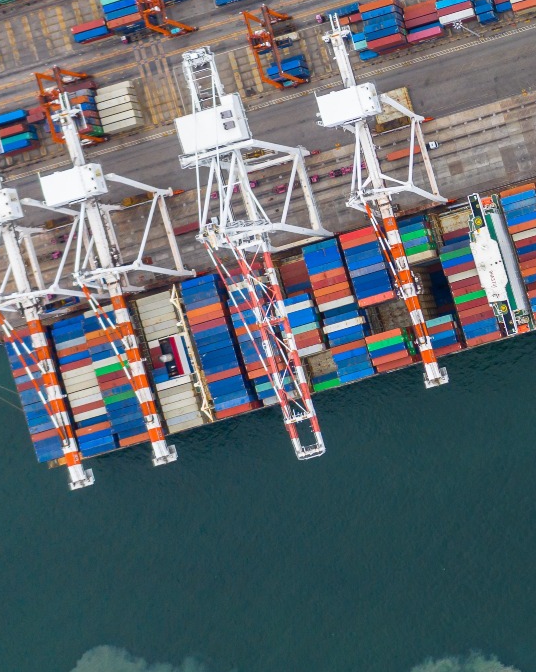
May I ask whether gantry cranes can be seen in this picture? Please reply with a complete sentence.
Yes, a gantry crane is visible in the scene.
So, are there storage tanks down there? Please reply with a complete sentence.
No, the photo shows no storage tank.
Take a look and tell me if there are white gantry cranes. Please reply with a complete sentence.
Yes, I can see a white gantry crane in this picture.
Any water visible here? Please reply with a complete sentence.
Yes, the picture does contain water.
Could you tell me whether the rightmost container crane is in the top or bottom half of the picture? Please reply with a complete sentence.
It is in the top half that the rightmost container crane appears.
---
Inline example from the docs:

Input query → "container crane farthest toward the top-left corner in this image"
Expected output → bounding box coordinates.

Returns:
[24,63,97,145]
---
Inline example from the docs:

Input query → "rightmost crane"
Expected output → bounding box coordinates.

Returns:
[313,13,462,387]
